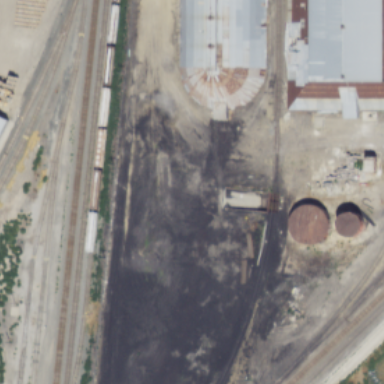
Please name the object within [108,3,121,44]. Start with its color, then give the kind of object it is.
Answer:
white rail car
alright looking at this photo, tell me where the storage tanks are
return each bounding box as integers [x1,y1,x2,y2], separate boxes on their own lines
[336,210,376,238]
[288,204,332,244]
